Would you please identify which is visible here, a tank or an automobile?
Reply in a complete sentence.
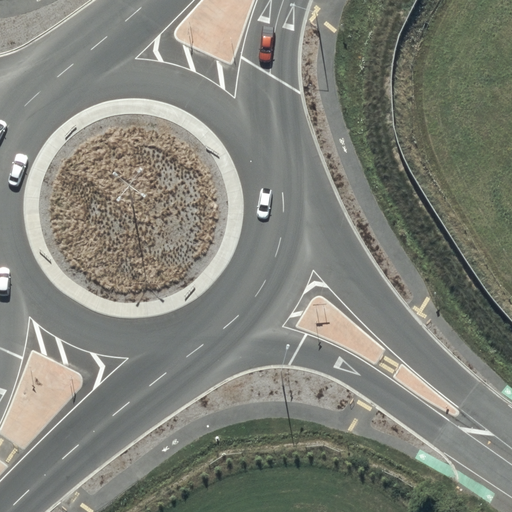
The image shows an automobile.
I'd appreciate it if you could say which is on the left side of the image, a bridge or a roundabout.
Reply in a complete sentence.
Looking on the left side of the image, you will find a roundabout.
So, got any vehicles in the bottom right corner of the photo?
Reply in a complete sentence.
No, the scene shows no vehicle in the bottom right corner of the photo.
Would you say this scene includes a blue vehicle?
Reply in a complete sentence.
No, I find no blue vehicle anywhere in the image.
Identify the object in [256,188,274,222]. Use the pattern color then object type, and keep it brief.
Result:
white car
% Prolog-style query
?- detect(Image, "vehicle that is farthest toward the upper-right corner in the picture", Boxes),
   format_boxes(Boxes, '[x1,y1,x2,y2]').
[258,27,274,65]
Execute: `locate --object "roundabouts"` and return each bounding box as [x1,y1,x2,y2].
[24,99,244,318]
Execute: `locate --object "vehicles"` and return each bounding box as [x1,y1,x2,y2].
[8,154,27,188]
[256,188,274,222]
[0,120,7,141]
[258,27,274,65]
[0,266,10,299]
